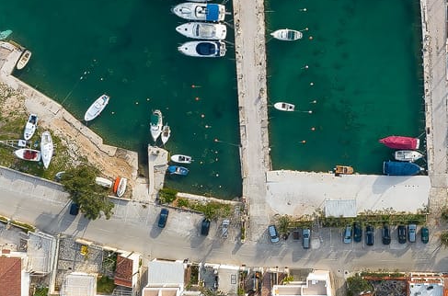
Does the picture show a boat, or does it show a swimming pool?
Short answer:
boat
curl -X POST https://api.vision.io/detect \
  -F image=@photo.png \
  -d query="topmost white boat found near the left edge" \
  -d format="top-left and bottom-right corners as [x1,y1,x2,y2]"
[19,48,32,68]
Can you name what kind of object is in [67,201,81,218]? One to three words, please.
vehicle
